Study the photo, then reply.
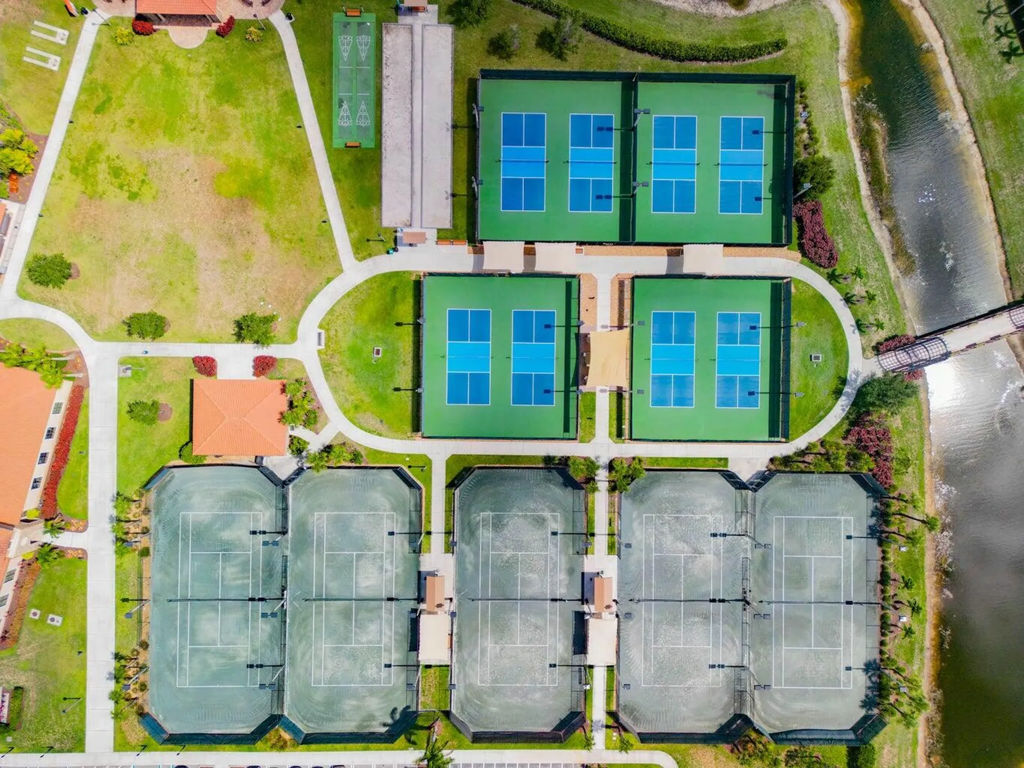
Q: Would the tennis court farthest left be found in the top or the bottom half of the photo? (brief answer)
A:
bottom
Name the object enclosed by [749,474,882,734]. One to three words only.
tennis court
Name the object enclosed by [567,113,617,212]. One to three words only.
sports court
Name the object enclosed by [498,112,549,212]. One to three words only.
sports court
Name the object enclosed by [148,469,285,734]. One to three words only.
tennis court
